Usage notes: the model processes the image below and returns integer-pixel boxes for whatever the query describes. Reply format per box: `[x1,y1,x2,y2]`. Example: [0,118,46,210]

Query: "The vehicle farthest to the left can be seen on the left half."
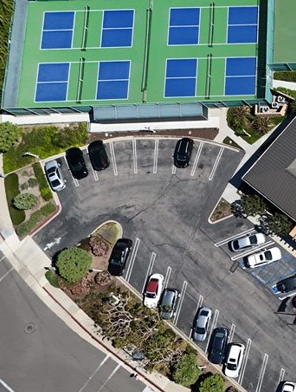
[47,159,68,193]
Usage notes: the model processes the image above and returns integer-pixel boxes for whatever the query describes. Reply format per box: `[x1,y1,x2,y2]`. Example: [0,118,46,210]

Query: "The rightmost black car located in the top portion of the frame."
[174,137,195,170]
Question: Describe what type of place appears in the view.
sports ground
